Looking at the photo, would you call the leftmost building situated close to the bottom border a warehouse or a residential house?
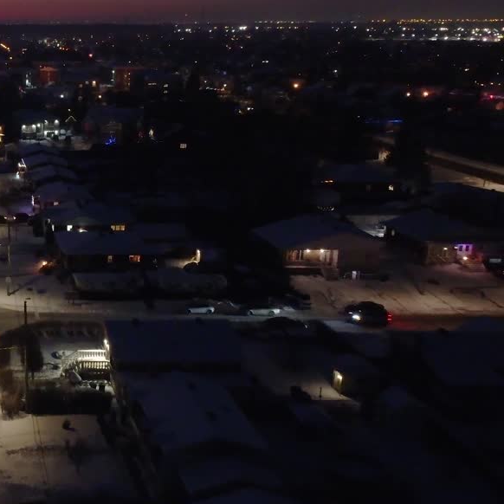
residential house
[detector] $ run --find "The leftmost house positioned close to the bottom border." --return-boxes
[122,385,295,496]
